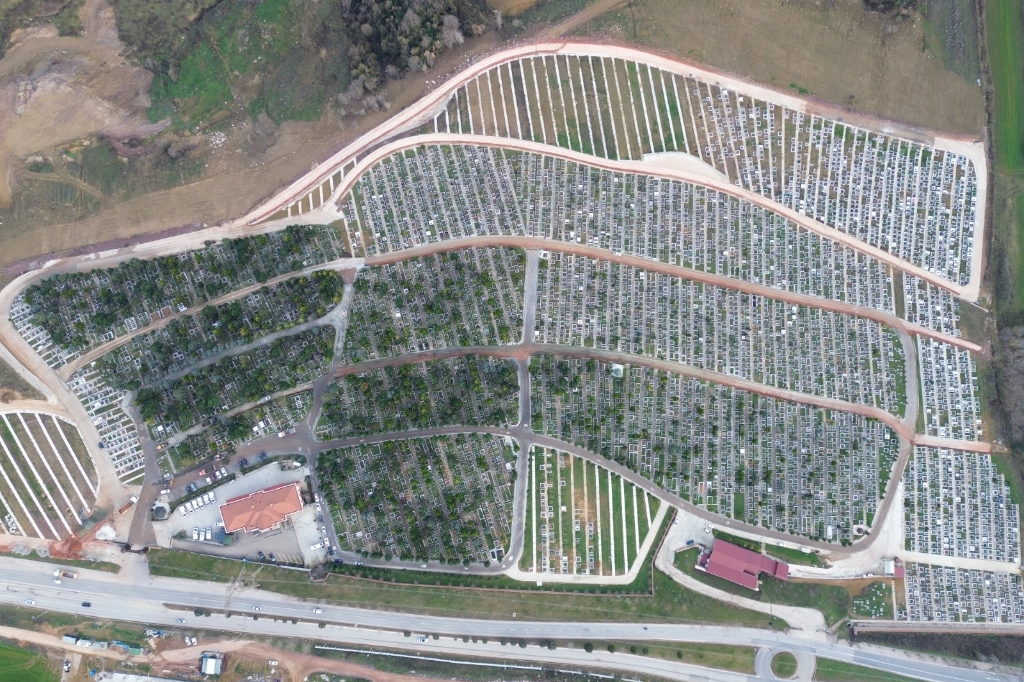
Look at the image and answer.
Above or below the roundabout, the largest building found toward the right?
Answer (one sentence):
In the image, the largest building found toward the right appears above the roundabout.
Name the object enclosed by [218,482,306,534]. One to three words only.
building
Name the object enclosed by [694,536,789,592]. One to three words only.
building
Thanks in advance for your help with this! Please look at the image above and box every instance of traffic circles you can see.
[752,644,817,682]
